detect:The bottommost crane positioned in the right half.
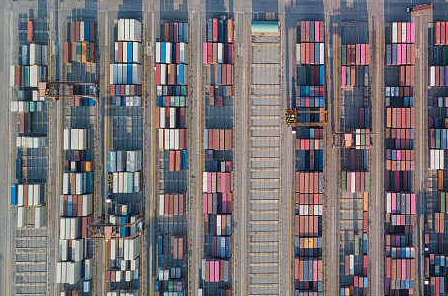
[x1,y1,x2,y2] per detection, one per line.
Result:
[331,127,376,149]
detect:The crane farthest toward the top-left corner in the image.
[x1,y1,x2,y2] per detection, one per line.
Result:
[34,79,99,100]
